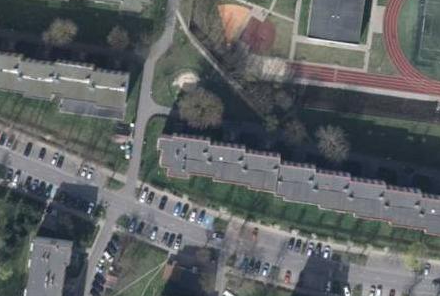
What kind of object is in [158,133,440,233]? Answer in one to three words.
building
